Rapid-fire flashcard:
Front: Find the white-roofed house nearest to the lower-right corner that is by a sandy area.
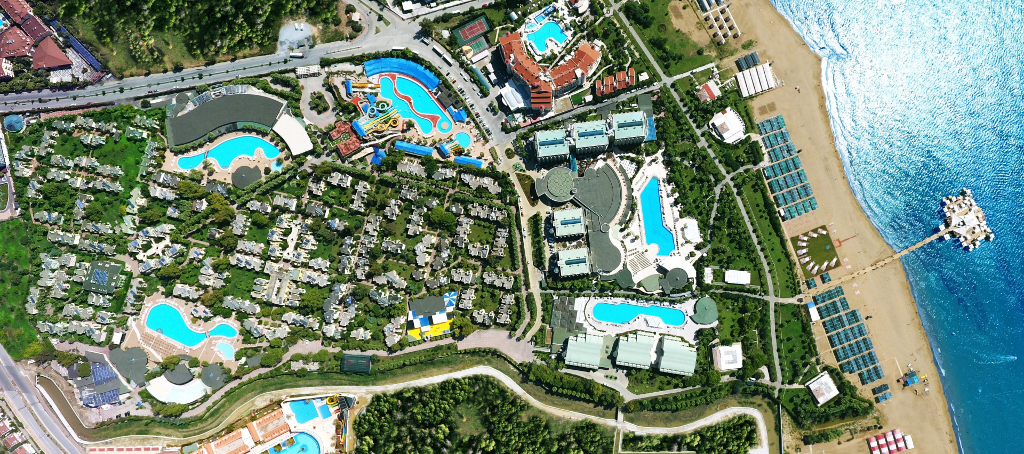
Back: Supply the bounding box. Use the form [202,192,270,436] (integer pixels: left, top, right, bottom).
[804,372,839,406]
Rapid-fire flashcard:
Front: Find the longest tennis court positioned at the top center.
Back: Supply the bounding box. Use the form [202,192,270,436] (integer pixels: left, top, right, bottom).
[452,13,493,46]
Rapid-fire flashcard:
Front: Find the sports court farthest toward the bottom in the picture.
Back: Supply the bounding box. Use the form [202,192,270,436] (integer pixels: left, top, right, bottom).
[340,355,371,374]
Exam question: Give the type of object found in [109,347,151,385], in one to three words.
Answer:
building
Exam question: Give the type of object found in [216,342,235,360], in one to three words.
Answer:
swimming pool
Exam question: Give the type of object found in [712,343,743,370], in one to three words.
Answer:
house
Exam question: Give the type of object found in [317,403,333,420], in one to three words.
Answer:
swimming pool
